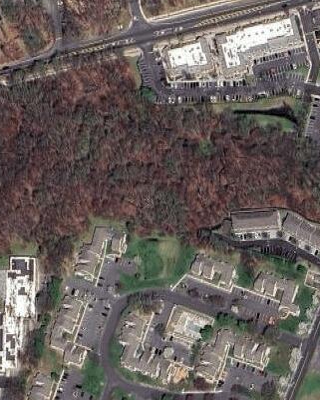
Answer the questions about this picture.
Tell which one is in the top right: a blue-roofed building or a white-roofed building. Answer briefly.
white-roofed building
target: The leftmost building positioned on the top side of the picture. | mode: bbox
[169,43,208,70]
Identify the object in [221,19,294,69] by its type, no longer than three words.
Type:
building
